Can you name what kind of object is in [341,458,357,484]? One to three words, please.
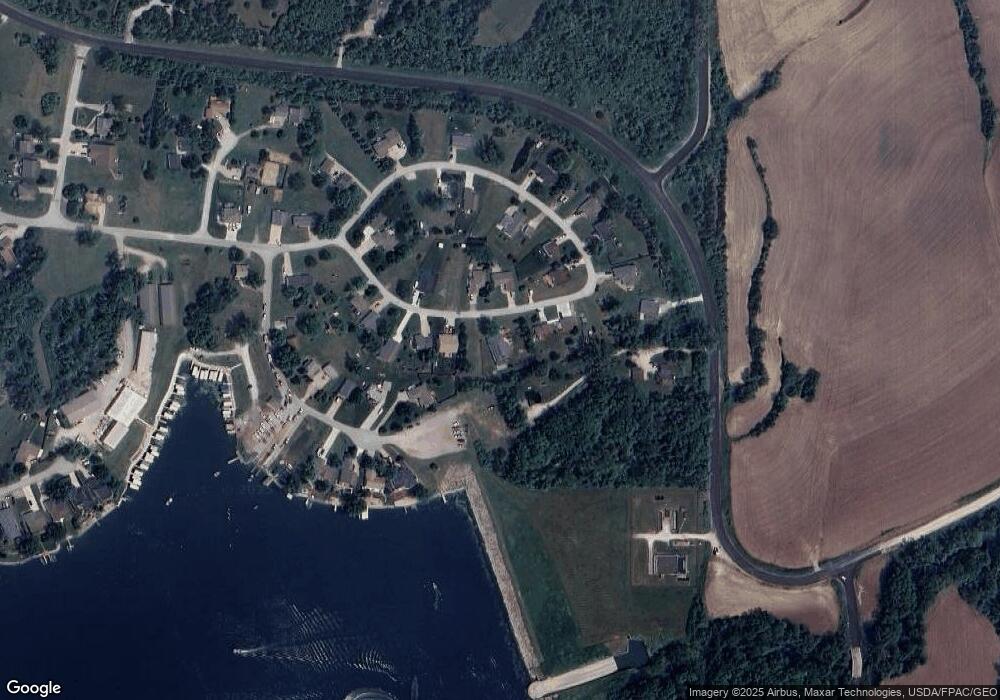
house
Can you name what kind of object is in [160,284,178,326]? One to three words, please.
building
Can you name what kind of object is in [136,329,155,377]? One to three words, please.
building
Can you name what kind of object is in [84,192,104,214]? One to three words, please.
house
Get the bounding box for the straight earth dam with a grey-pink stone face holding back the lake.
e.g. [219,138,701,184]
[469,469,562,677]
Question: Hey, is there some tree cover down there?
Yes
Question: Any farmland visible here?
Yes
